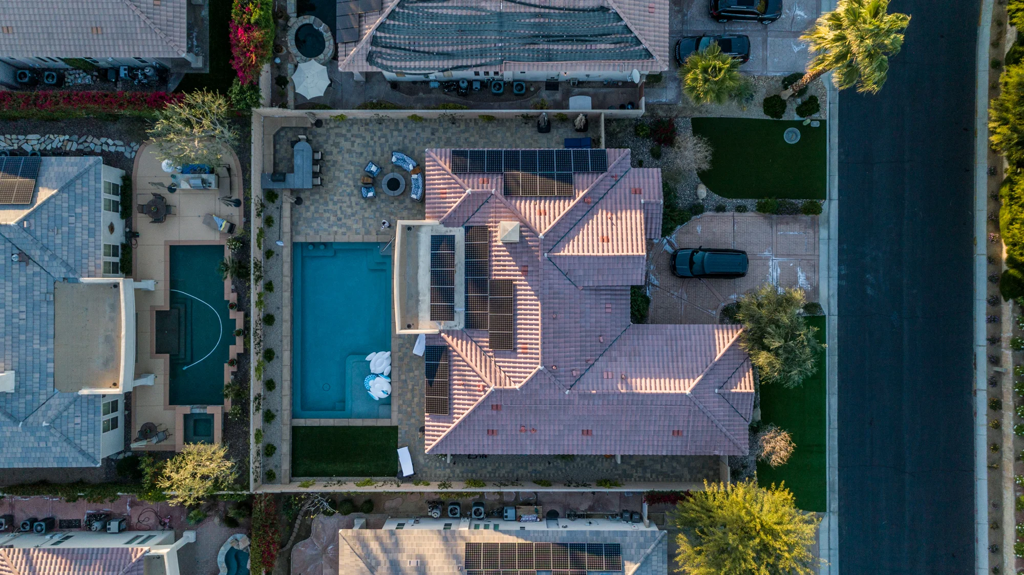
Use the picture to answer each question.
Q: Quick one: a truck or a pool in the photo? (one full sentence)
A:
Looking from above, you can make out a pool.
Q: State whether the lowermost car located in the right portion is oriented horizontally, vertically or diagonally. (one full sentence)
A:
Seen from above, the lowermost car located in the right portion lies horizontally.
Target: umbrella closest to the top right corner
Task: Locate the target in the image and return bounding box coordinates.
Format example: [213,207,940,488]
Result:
[574,114,588,133]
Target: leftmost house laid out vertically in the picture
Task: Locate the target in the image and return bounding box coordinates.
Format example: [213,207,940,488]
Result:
[0,155,154,469]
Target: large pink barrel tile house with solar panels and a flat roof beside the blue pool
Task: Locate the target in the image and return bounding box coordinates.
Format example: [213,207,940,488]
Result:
[395,147,755,473]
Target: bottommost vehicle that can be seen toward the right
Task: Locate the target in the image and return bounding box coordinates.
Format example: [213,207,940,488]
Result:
[671,244,749,282]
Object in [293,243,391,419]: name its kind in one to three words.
swimming pool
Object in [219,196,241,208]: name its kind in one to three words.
umbrella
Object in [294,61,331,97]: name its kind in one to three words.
umbrella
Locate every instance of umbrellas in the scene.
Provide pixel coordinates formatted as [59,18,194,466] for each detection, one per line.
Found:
[294,61,331,97]
[574,114,588,133]
[285,194,304,205]
[306,113,324,128]
[131,436,158,447]
[149,182,176,192]
[219,196,241,208]
[537,113,551,133]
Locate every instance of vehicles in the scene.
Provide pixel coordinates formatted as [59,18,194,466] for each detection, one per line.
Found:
[671,244,749,282]
[712,0,787,23]
[674,29,750,68]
